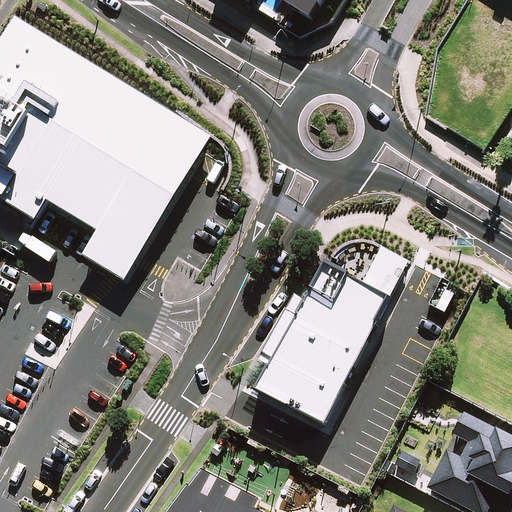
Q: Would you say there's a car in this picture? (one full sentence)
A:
Yes, there is a car in the image.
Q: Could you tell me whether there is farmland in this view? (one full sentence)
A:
No, no farmland is visible.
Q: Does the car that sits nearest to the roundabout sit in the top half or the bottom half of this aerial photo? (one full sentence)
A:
The car that sits nearest to the roundabout sits in the top half of the picture.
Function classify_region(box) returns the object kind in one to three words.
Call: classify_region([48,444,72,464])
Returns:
vehicle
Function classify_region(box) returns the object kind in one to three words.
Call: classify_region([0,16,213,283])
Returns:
building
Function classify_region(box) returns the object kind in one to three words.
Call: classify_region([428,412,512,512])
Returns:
house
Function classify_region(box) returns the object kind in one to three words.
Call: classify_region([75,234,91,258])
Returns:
car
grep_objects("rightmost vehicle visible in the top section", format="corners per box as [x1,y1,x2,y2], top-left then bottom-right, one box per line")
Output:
[426,194,449,214]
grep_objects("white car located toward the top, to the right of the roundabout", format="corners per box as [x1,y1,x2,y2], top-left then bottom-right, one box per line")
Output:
[366,104,388,125]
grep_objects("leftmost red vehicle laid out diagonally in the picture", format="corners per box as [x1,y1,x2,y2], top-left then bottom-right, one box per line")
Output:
[6,393,27,410]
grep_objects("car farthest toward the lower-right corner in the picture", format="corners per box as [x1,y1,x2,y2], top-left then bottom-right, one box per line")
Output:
[418,317,442,336]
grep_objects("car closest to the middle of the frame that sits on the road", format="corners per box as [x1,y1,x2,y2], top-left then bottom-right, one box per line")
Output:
[272,252,288,274]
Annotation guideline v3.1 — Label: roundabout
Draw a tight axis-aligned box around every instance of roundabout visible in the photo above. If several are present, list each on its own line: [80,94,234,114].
[298,94,364,160]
